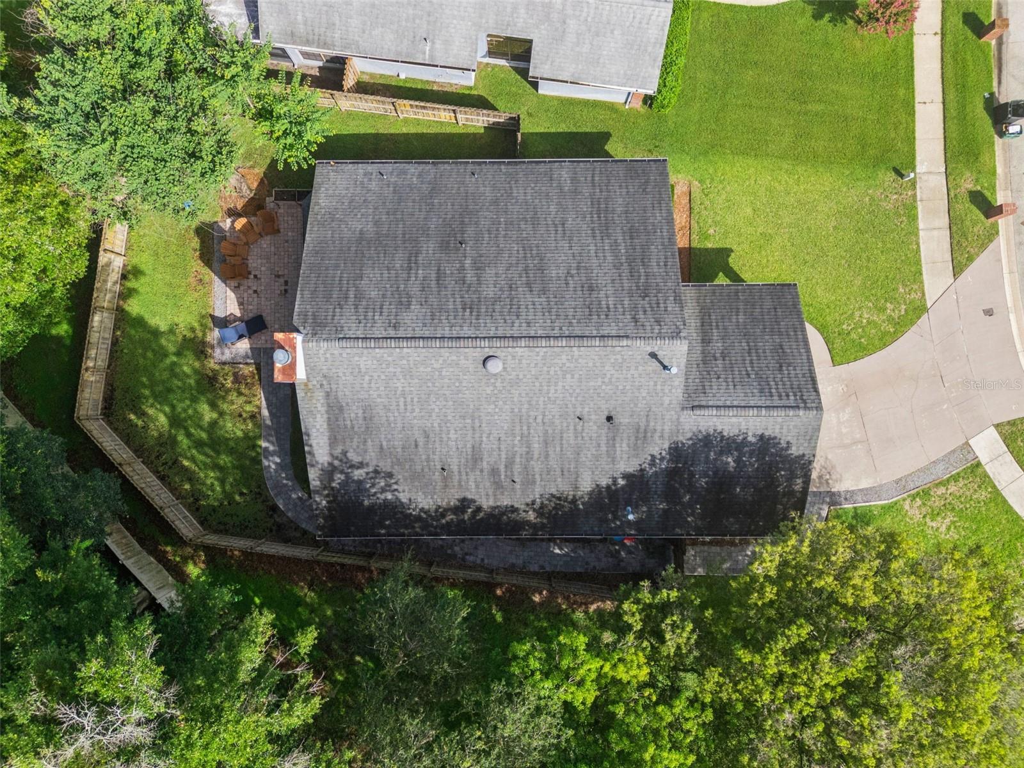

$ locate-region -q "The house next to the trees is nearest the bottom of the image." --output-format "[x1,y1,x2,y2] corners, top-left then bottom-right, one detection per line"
[274,155,822,540]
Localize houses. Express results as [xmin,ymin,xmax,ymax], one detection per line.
[274,155,822,540]
[197,0,674,108]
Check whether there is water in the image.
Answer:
No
